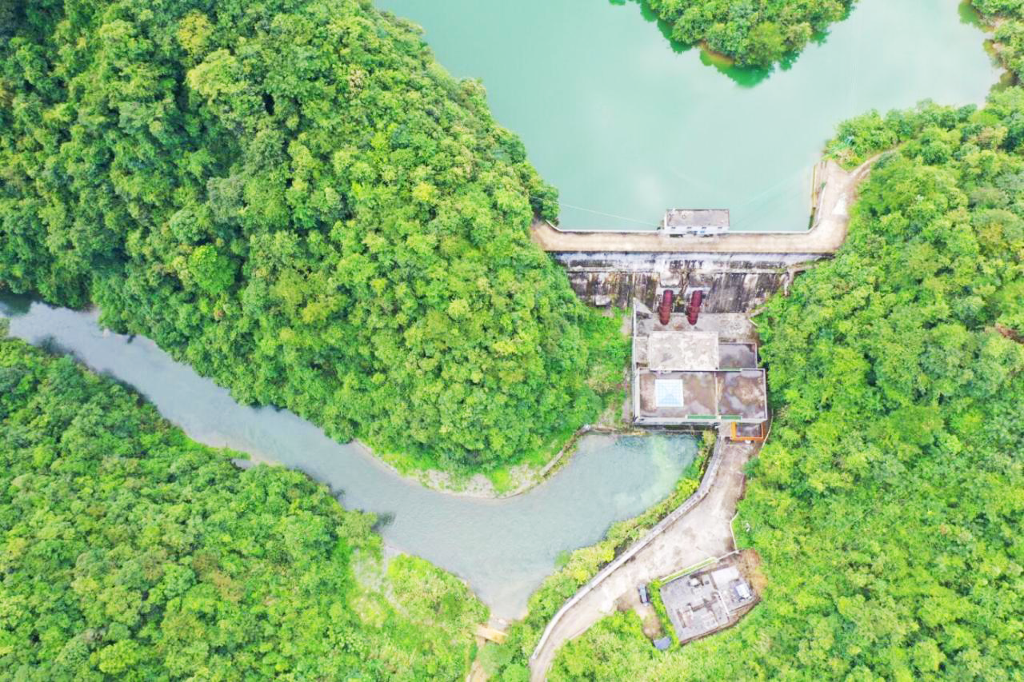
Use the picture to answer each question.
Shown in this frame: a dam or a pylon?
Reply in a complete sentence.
Of the two, only a dam appears.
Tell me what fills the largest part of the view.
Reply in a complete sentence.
Most of the picture is covered by trees.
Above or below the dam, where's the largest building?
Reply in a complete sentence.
As seen from overhead, the largest building falls below the dam in the picture.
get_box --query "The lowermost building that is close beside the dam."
[631,369,769,434]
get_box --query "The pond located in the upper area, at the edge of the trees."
[375,0,1006,232]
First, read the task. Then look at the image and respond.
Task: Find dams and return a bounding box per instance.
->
[530,146,896,313]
